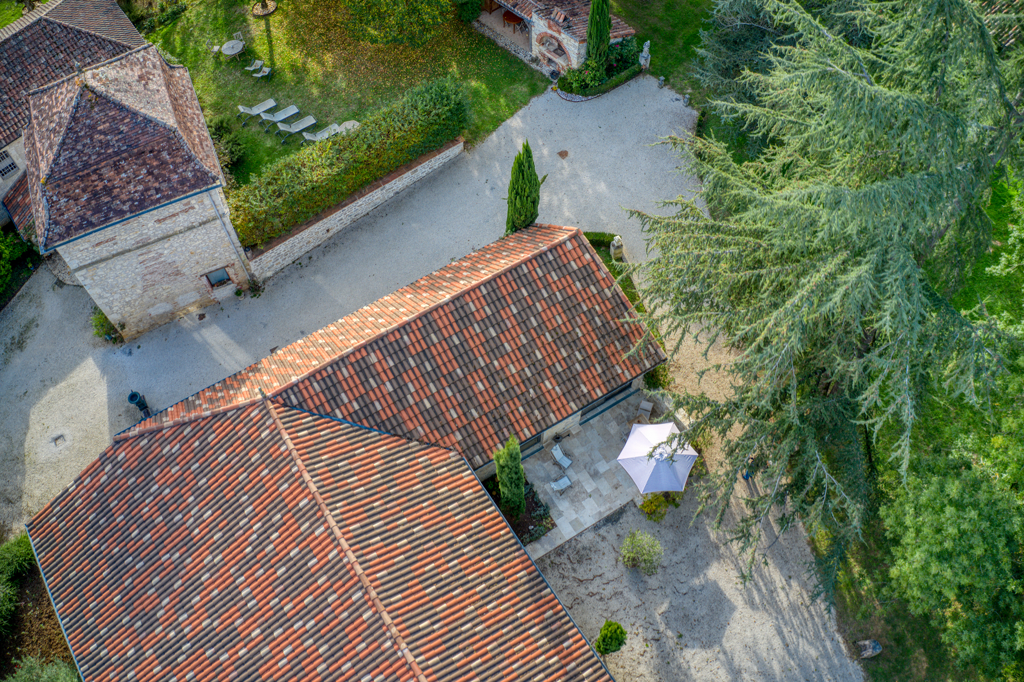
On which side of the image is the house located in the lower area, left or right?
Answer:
left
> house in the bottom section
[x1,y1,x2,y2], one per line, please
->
[23,220,669,682]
